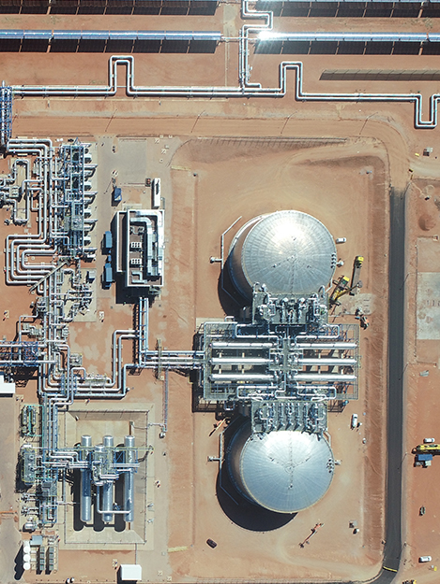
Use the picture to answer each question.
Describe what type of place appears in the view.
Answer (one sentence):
It's an industrial area.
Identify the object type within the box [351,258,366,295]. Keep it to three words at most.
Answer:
vehicle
